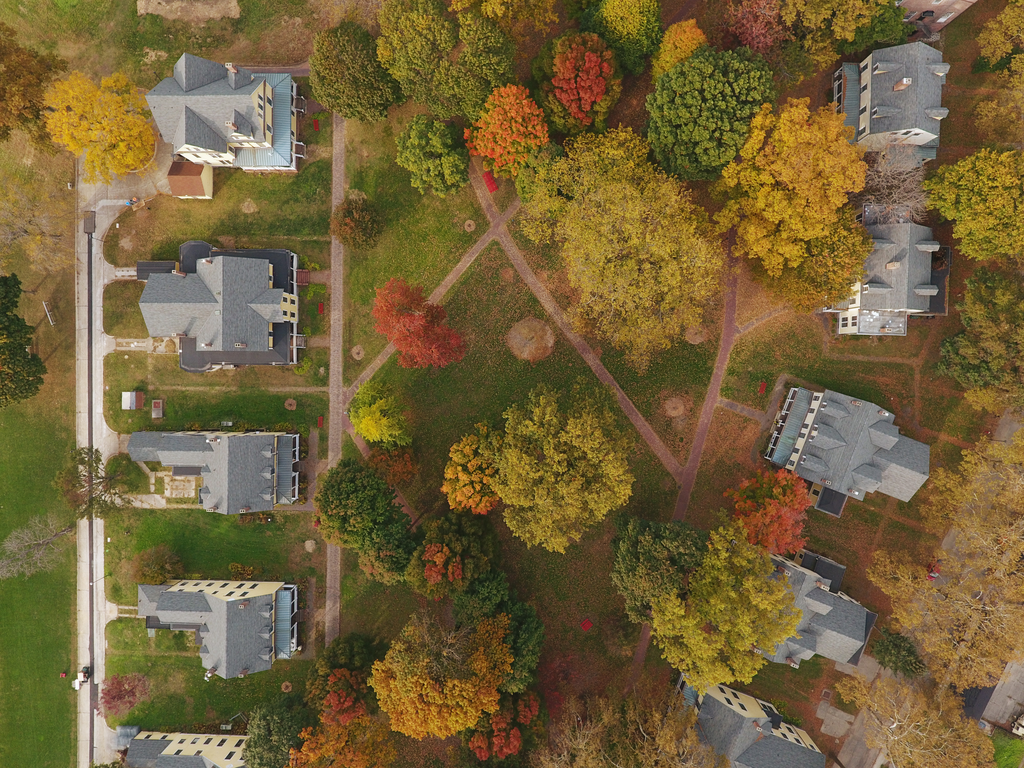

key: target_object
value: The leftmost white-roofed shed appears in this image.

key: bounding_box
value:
[122,392,143,410]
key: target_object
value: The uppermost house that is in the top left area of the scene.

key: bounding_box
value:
[145,52,307,171]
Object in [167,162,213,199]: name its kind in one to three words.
building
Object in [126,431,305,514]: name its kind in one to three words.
house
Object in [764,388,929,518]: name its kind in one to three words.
house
